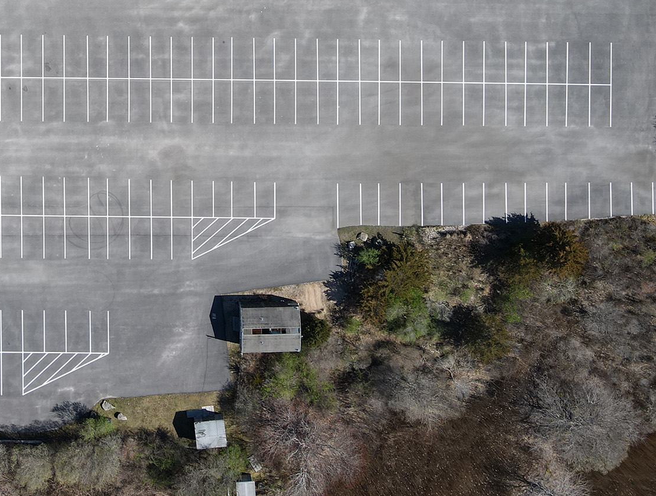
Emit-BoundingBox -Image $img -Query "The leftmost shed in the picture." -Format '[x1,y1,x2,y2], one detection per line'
[194,401,226,449]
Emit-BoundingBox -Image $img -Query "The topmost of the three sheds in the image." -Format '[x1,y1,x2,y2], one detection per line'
[240,301,302,363]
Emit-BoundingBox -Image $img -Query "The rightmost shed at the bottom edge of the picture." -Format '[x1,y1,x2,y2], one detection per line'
[234,471,256,496]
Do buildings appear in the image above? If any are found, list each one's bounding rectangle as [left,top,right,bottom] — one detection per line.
[194,401,226,449]
[234,471,256,496]
[240,301,302,363]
